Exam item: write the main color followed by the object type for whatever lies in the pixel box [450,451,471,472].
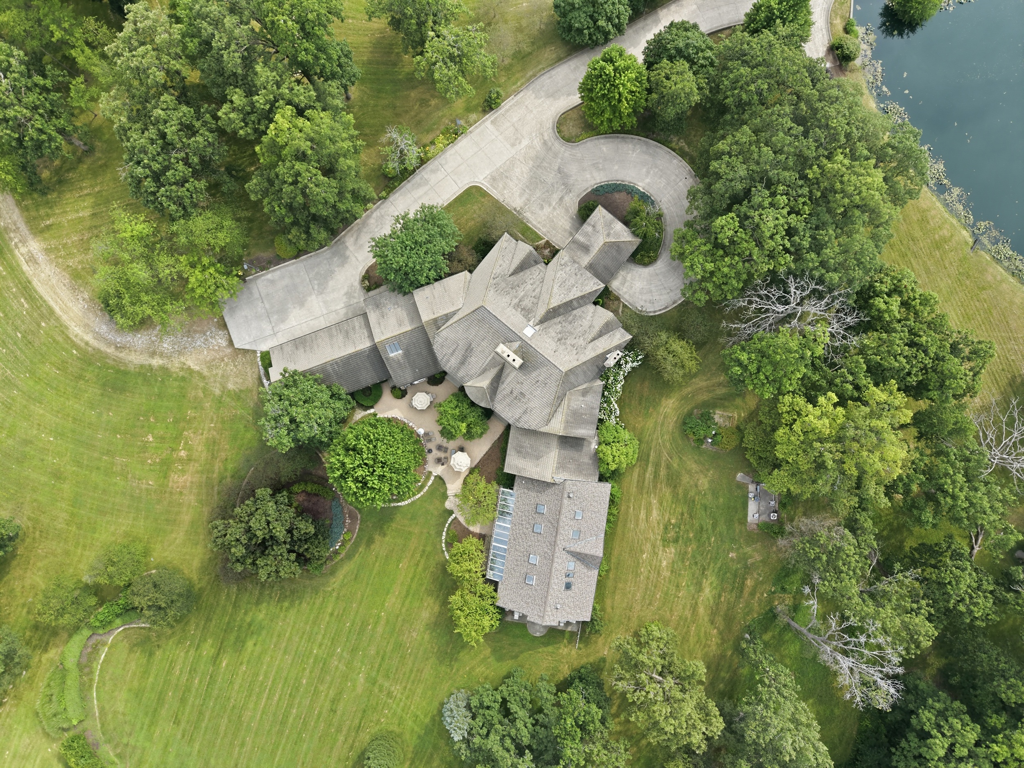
white umbrella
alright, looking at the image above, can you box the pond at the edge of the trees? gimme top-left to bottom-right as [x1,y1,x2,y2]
[854,0,1024,285]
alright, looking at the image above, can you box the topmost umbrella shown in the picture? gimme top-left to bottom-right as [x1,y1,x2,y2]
[412,392,430,410]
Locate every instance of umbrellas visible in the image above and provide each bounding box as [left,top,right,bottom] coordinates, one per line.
[450,451,471,472]
[412,392,430,410]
